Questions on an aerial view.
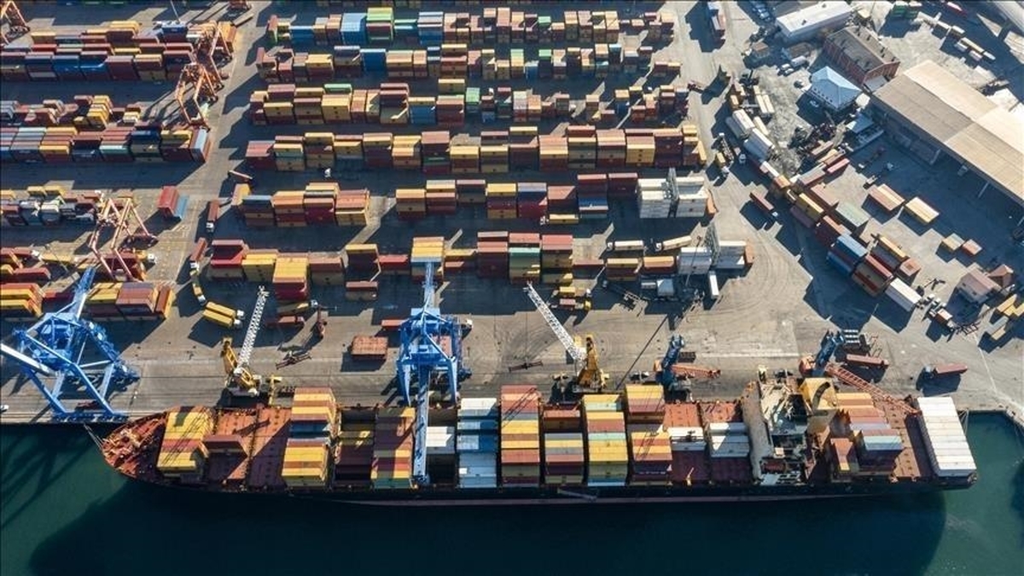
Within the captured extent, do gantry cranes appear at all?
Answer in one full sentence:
Yes, the image includes a gantry crane.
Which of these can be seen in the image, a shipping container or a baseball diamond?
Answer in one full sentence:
I can see a shipping container in this picture.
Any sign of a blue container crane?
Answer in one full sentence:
Yes, there is a blue container crane in the image.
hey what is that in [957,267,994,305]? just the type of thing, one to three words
building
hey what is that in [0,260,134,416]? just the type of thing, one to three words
container crane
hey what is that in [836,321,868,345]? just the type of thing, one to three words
work vehicle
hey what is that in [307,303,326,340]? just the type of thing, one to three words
work vehicle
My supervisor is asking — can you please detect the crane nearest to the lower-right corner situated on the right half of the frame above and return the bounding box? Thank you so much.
[793,328,925,417]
